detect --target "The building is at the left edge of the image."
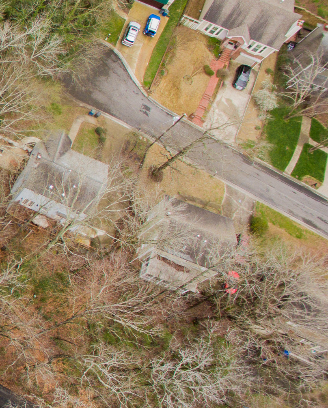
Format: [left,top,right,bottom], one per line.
[8,127,111,231]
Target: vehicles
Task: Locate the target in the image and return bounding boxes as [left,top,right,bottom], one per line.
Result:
[234,65,250,89]
[144,13,160,37]
[122,21,141,45]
